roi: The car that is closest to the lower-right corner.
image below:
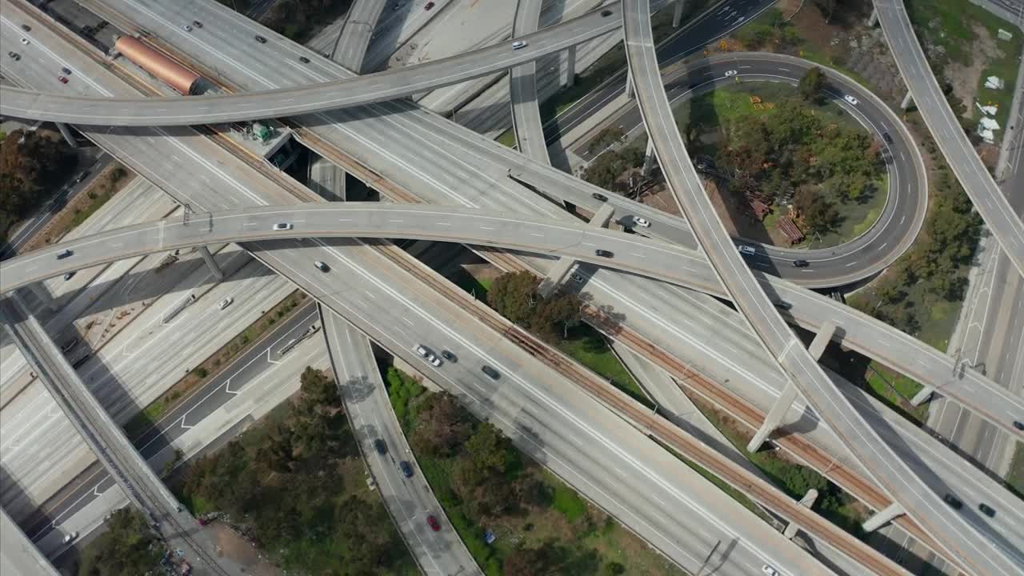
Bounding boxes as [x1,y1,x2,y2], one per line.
[975,500,1000,518]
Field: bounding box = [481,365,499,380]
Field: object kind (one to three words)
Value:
car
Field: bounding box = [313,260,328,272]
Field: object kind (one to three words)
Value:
vehicle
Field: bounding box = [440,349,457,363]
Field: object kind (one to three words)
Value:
car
